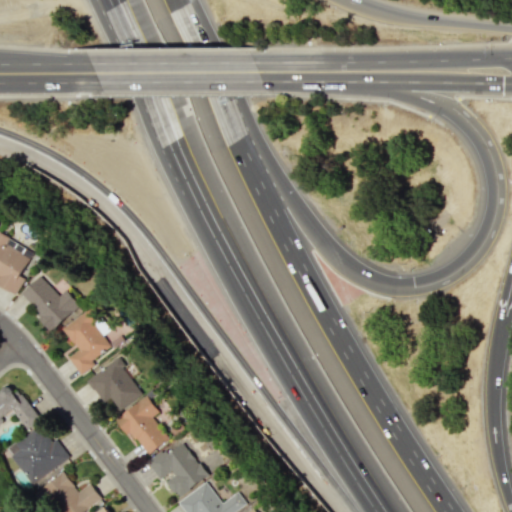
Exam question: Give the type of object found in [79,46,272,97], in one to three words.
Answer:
overpass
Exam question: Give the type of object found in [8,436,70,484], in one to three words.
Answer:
house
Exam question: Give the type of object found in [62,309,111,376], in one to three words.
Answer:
house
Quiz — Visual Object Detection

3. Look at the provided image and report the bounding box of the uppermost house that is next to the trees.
[0,232,34,298]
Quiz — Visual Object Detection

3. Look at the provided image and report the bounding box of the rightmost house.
[180,482,248,512]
